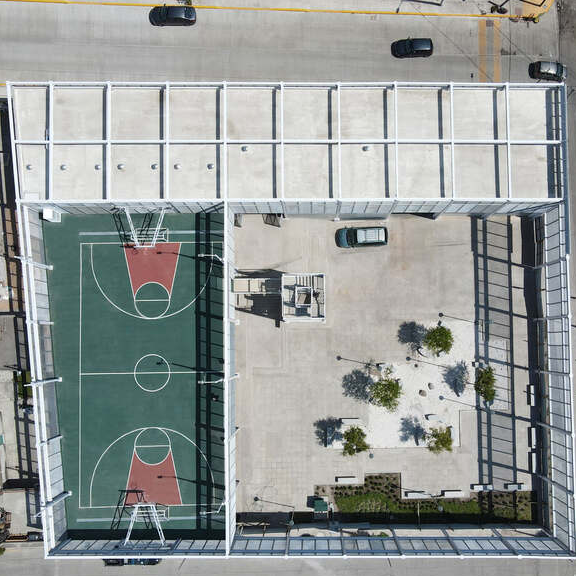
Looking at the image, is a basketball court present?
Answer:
Yes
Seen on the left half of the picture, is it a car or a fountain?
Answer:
car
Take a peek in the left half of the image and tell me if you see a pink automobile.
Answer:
No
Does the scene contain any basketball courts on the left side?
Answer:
Yes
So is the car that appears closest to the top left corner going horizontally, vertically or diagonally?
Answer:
horizontally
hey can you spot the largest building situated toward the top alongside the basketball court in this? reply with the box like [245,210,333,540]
[8,81,571,254]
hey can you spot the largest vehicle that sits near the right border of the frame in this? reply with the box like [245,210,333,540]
[530,60,569,83]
